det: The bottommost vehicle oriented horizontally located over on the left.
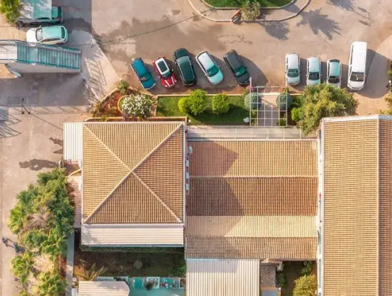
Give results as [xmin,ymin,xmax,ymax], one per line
[26,24,69,44]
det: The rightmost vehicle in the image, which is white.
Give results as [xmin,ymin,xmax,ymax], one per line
[348,38,369,90]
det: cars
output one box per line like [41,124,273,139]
[20,7,63,27]
[174,49,195,87]
[285,53,302,86]
[26,24,69,44]
[195,50,223,87]
[326,60,341,87]
[155,56,175,89]
[131,58,155,90]
[306,58,323,80]
[223,49,249,86]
